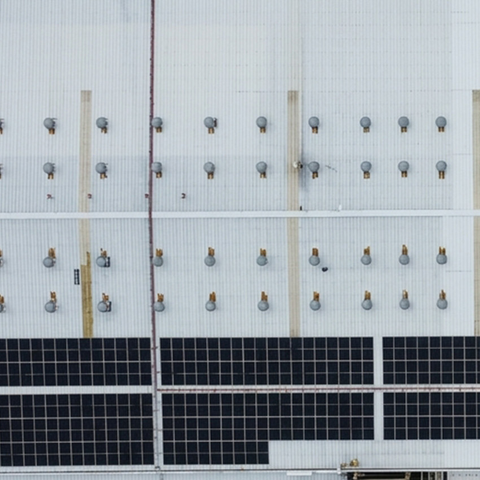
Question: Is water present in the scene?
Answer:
No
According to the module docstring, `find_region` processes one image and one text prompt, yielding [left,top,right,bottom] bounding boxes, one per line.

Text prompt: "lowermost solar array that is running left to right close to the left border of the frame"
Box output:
[0,393,155,466]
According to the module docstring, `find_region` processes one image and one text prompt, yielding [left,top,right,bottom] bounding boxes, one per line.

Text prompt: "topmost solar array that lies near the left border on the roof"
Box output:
[0,338,153,386]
